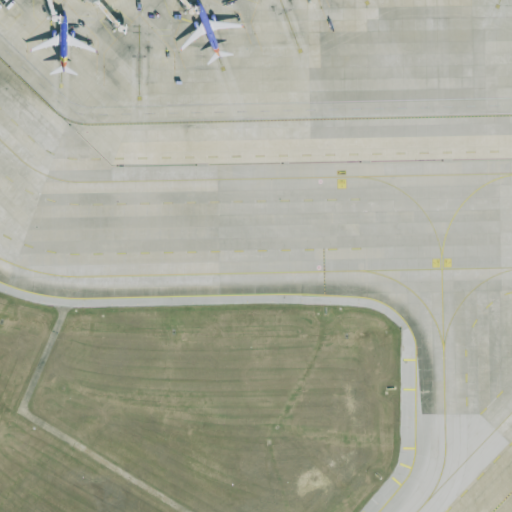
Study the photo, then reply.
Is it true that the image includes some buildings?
No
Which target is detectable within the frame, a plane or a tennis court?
plane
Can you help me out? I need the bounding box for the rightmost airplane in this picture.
[181,0,244,64]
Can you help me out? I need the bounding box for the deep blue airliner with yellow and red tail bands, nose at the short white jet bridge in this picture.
[30,10,96,74]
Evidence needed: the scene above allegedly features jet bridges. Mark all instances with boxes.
[45,0,62,22]
[94,0,126,32]
[179,0,198,15]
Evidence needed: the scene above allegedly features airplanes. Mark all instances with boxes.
[30,10,96,74]
[181,0,244,64]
